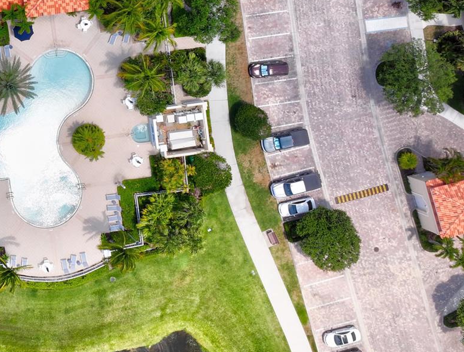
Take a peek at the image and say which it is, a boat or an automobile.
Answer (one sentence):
Visible in the photo is an automobile.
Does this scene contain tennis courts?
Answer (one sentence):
No, the photo shows no tennis court.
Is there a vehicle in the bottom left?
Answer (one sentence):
No, no vehicle is visible in the bottom left.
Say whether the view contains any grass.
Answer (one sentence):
Yes, some grass is visible.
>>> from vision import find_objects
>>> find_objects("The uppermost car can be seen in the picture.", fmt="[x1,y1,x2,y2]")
[248,60,289,79]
